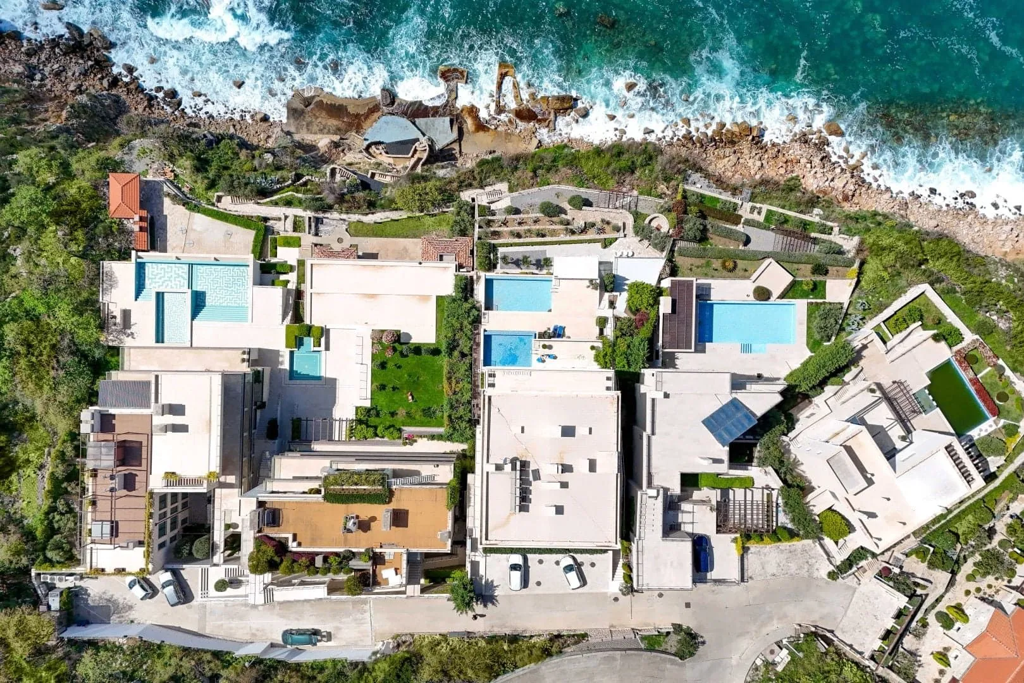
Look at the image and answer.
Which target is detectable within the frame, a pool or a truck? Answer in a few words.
pool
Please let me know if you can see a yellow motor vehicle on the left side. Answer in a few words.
No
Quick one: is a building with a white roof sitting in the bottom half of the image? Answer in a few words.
Yes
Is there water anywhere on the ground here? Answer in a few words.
Yes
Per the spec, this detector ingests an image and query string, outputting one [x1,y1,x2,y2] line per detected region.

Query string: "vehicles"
[507,553,525,590]
[560,553,583,592]
[127,574,157,604]
[158,566,186,609]
[693,533,712,573]
[282,626,322,647]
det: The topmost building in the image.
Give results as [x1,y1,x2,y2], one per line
[364,116,462,174]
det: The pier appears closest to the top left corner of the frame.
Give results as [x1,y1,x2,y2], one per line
[439,65,469,114]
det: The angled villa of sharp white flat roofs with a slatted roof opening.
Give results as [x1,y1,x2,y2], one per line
[784,386,987,559]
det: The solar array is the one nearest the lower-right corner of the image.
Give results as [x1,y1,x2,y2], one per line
[700,397,758,447]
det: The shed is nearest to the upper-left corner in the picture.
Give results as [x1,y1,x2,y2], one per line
[108,172,155,252]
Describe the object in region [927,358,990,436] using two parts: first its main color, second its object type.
green swimming pool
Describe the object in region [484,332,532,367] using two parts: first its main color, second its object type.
blue swimming pool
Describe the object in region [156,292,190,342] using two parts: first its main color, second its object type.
white swimming pool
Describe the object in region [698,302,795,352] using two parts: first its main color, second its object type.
blue swimming pool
